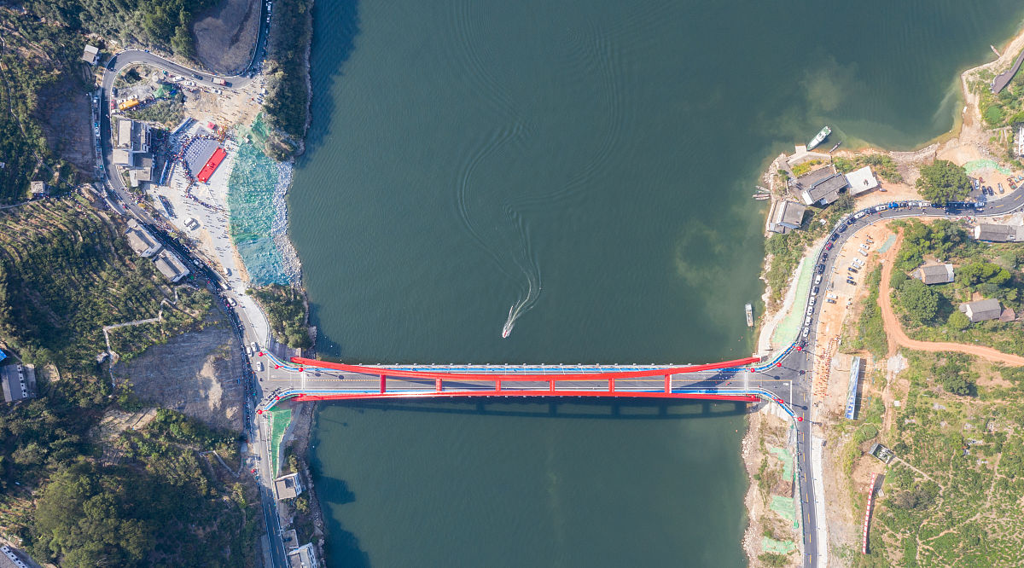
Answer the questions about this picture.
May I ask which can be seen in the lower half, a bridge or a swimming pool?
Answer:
bridge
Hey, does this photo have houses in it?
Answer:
Yes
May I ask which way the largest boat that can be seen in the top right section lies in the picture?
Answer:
at an angle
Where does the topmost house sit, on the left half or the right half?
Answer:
left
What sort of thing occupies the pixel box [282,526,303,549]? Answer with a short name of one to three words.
house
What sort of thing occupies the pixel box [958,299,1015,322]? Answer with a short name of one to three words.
house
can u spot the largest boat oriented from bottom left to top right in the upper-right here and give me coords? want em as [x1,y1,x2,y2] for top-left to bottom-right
[808,126,831,149]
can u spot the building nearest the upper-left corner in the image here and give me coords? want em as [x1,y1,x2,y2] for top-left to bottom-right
[82,44,105,68]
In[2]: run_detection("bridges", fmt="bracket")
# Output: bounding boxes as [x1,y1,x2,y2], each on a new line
[260,338,800,421]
